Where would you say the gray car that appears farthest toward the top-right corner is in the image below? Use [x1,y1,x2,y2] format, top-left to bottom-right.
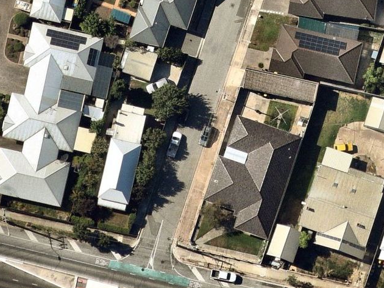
[198,121,214,147]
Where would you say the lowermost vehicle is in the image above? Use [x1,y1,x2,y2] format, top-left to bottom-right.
[209,269,238,283]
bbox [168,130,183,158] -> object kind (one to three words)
vehicle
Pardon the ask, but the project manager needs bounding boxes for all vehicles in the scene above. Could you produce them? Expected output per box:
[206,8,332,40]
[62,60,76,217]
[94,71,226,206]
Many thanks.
[147,75,173,90]
[209,269,238,283]
[198,121,214,147]
[334,141,353,151]
[168,130,183,158]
